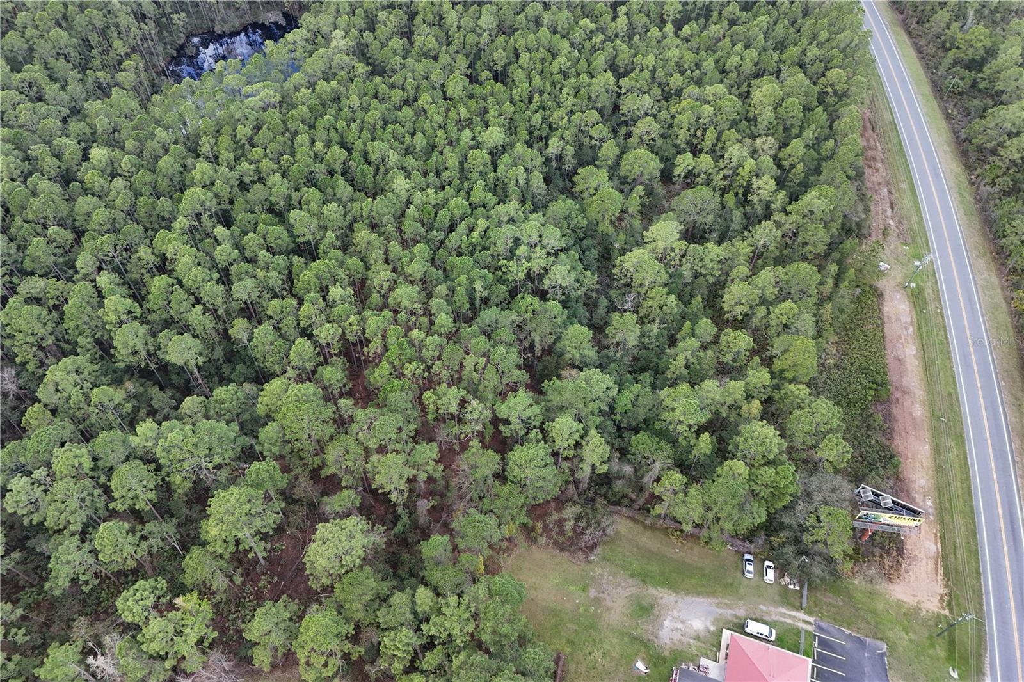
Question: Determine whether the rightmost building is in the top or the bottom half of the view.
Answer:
bottom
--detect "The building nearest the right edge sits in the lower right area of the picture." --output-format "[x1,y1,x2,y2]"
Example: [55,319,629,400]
[723,632,810,682]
